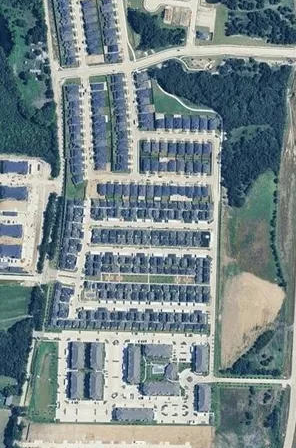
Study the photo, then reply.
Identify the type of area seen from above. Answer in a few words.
residential area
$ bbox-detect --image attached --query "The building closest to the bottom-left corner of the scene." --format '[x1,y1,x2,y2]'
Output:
[70,373,84,399]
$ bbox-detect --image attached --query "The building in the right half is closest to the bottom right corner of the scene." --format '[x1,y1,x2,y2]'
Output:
[195,385,212,412]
